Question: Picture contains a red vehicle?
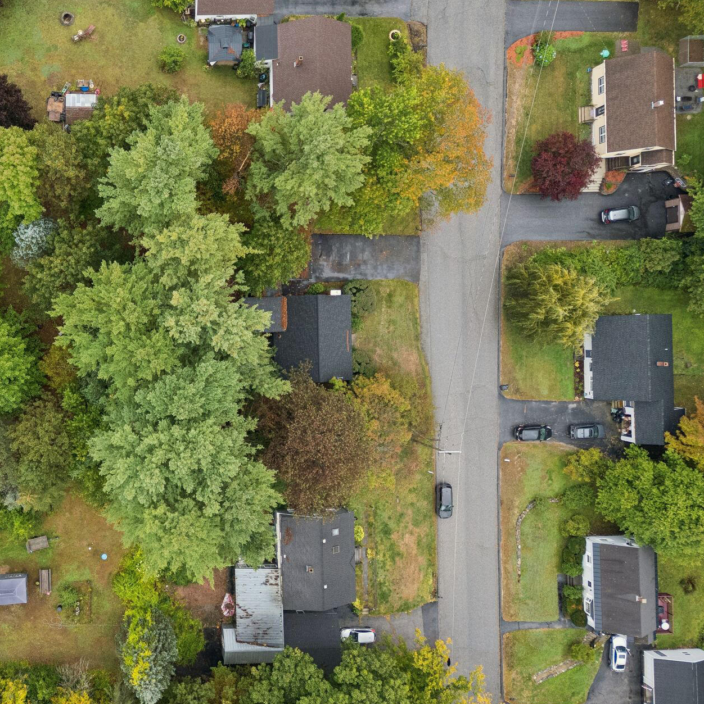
No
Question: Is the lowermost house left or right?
right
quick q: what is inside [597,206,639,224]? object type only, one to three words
car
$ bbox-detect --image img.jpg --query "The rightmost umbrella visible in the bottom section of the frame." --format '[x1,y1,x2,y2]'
[222,595,234,615]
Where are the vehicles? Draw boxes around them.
[341,625,376,643]
[566,423,603,440]
[512,424,550,442]
[434,481,453,518]
[608,633,628,673]
[597,206,639,224]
